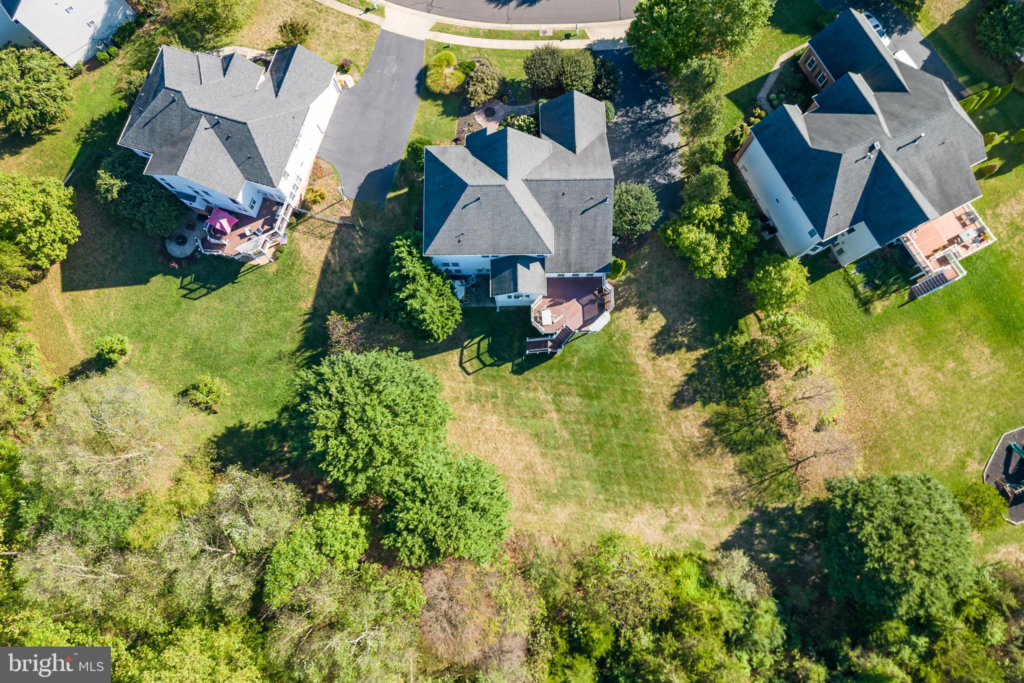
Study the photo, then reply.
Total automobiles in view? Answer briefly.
2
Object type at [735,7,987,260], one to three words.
house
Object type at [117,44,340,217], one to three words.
house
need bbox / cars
[893,44,923,71]
[864,10,895,45]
